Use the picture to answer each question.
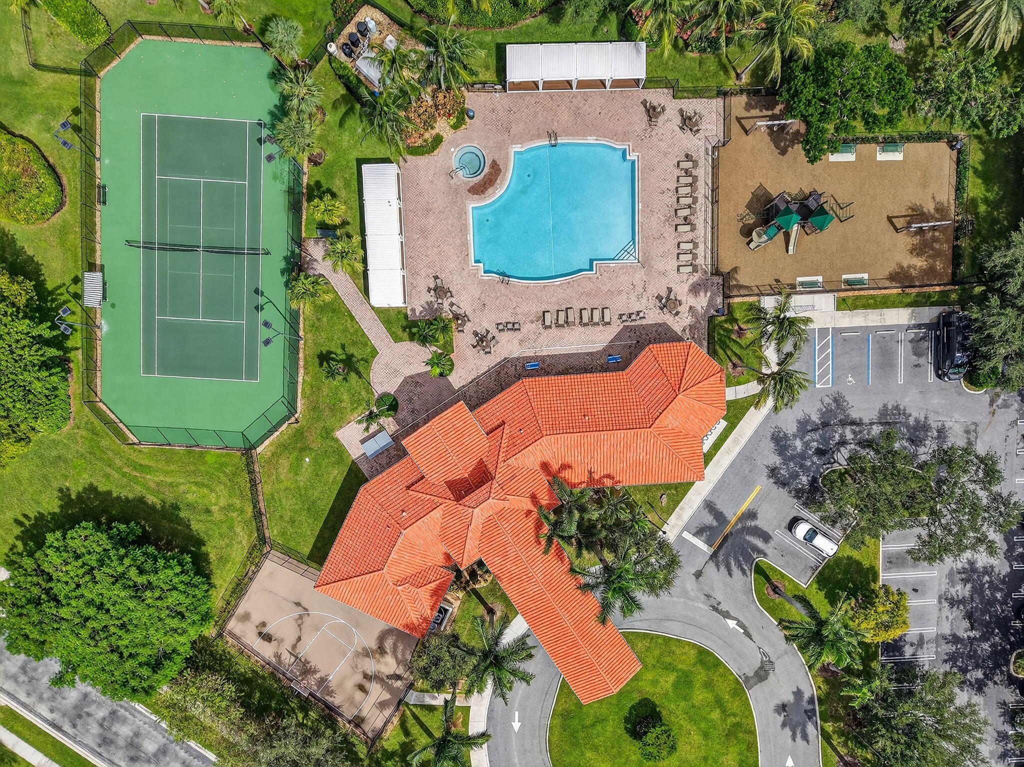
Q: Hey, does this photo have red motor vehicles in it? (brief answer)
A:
No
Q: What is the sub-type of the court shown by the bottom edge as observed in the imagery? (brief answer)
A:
basketball court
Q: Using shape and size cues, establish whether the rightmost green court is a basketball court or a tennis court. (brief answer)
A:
tennis court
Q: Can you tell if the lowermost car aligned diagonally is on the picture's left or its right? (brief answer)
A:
right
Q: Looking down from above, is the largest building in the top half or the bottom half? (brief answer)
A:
bottom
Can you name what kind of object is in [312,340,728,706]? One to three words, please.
building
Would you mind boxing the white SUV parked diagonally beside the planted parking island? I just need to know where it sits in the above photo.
[793,518,848,564]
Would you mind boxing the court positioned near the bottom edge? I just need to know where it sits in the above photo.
[227,553,423,741]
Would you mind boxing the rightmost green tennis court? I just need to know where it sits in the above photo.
[100,40,304,447]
